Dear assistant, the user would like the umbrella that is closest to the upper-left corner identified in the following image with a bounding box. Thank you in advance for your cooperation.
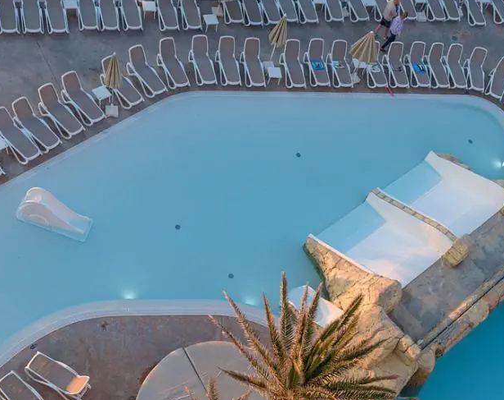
[101,51,123,118]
